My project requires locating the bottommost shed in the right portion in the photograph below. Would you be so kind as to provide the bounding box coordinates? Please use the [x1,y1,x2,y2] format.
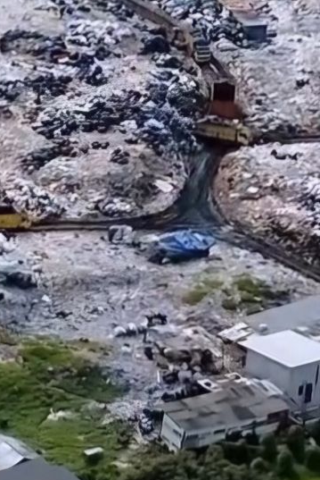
[159,375,290,455]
